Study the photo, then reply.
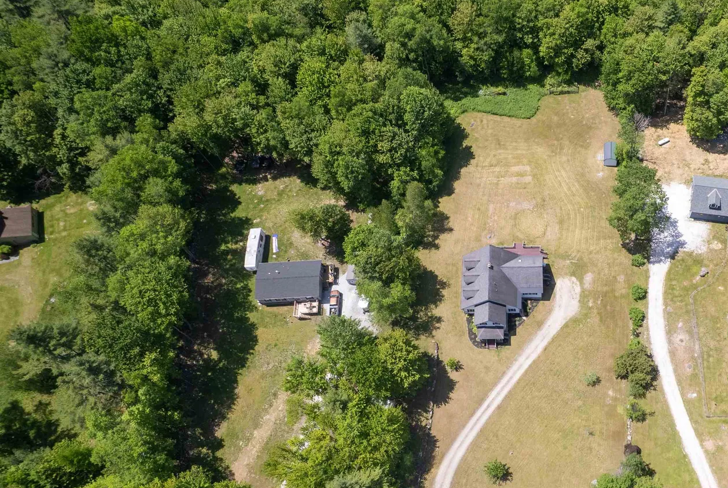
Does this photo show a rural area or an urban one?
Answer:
rural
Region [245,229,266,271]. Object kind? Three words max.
trailer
